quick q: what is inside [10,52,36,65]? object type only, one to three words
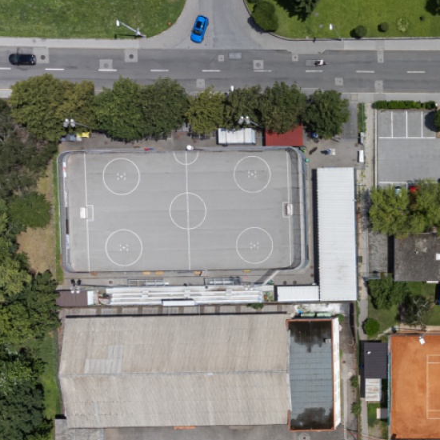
vehicle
